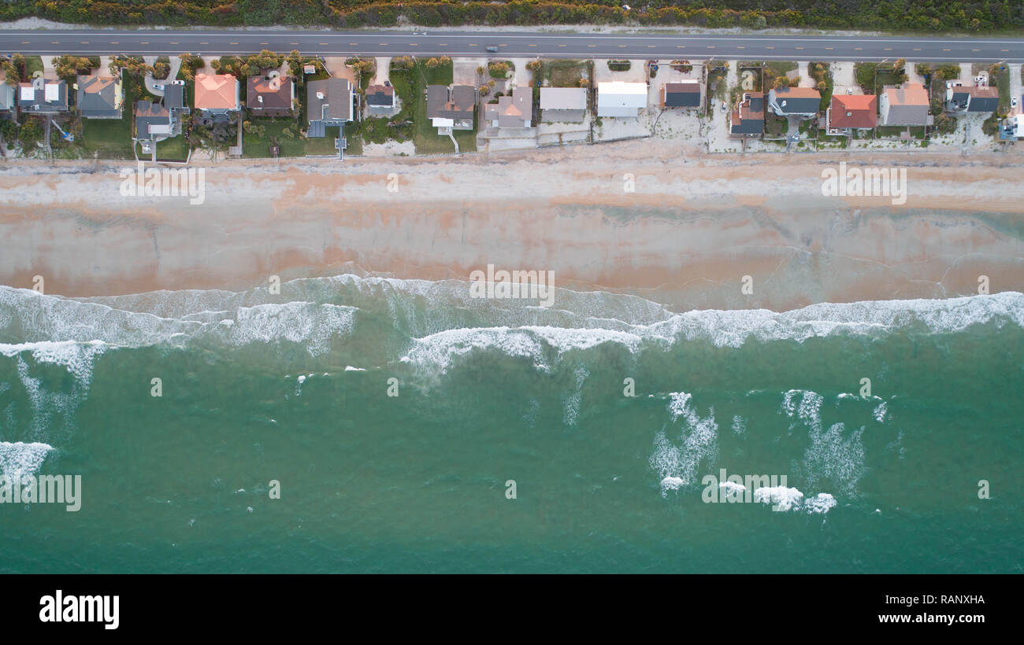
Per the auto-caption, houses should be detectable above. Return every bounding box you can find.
[16,80,73,113]
[366,84,393,106]
[766,87,824,116]
[135,84,185,139]
[540,87,586,110]
[306,76,352,138]
[195,73,239,114]
[828,95,876,129]
[247,74,293,113]
[946,85,1002,114]
[598,82,648,117]
[485,86,533,128]
[665,83,702,109]
[730,91,766,135]
[426,83,475,128]
[77,73,123,118]
[1009,94,1024,145]
[881,82,933,128]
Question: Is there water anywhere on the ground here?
Yes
